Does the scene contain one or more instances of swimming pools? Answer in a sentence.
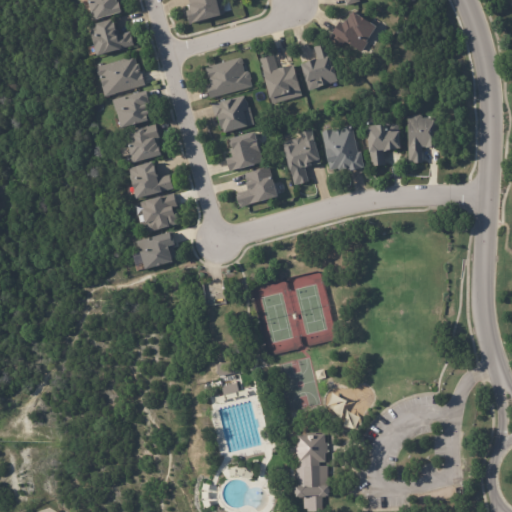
Yes, a swimming pool appears in the view.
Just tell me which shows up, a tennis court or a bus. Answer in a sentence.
I can see a tennis court in this picture.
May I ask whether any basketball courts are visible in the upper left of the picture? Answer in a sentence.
No, I see no basketball court in the upper left of the picture.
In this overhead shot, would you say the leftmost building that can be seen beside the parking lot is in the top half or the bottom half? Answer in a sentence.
It is in the bottom half that the leftmost building that can be seen beside the parking lot appears.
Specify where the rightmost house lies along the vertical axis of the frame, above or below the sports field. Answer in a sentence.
The rightmost house appears above the sports field in the picture.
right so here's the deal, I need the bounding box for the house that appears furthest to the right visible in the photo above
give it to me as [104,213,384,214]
[408,114,434,163]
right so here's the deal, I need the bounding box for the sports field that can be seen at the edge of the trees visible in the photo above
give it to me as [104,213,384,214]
[366,221,447,394]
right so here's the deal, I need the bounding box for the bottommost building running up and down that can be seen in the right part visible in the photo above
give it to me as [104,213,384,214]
[295,434,330,512]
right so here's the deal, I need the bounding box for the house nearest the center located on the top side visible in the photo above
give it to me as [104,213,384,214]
[238,166,277,206]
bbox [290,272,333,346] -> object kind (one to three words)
tennis court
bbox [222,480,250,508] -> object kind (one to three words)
swimming pool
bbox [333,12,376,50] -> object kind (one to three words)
house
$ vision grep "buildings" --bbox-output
[130,126,160,162]
[130,162,174,198]
[322,126,362,172]
[369,125,400,166]
[227,134,260,170]
[261,56,302,104]
[98,60,145,95]
[223,384,240,398]
[138,232,174,268]
[333,12,376,50]
[184,0,220,23]
[408,114,434,163]
[295,434,330,512]
[141,194,178,232]
[238,166,277,206]
[302,46,337,92]
[206,60,252,96]
[92,20,134,54]
[218,98,254,132]
[113,94,148,126]
[286,131,320,186]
